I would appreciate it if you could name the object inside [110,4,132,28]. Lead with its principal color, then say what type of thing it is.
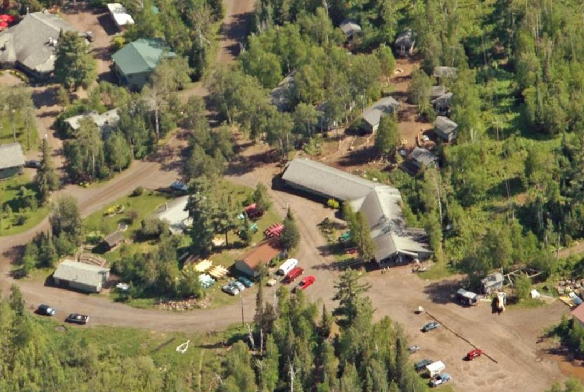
white vehicle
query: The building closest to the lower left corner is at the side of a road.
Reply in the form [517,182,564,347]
[54,256,115,292]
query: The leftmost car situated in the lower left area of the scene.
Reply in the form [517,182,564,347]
[36,304,57,316]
